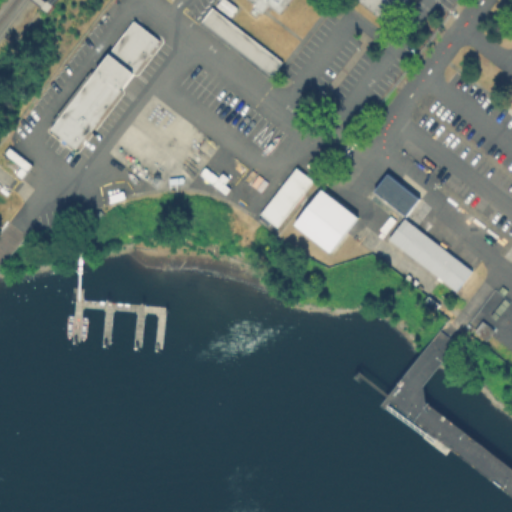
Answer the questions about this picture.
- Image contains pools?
No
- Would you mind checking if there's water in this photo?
Yes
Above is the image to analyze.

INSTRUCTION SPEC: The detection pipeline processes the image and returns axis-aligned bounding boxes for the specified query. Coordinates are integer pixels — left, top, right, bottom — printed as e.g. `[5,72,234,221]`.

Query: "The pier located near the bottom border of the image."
[354,330,512,497]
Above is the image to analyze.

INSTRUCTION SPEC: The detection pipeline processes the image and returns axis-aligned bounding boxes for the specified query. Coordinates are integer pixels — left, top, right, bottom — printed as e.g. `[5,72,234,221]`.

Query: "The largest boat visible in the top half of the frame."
[264,137,281,154]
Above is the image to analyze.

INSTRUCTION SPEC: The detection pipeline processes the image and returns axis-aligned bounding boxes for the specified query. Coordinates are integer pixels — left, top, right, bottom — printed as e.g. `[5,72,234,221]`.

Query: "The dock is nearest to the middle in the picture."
[72,256,168,352]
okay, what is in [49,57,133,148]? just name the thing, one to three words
building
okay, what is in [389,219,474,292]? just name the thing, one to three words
building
